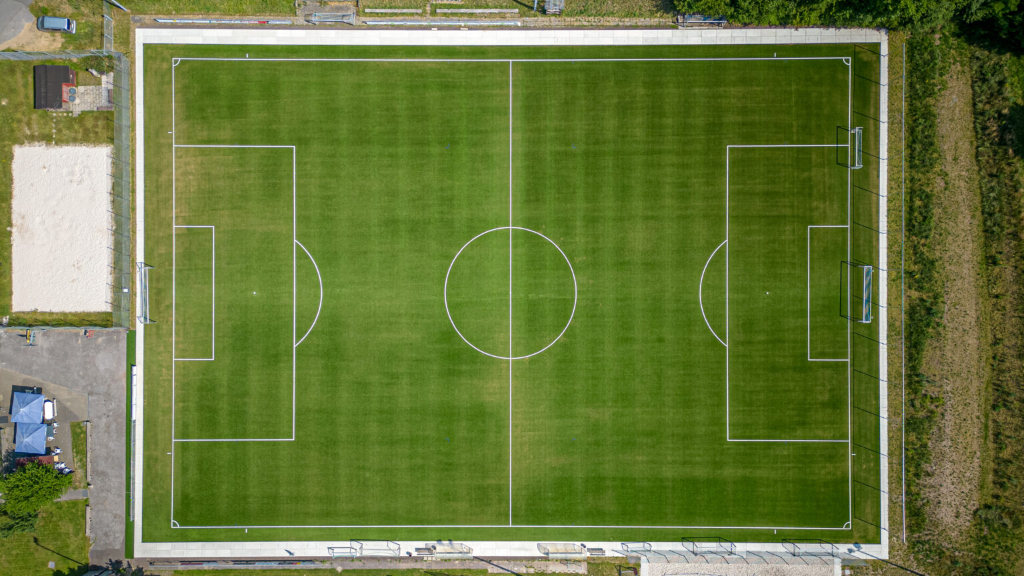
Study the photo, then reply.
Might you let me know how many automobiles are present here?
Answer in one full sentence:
I count just 1 automobile.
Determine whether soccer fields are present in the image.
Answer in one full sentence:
Yes, there is a soccer field in the image.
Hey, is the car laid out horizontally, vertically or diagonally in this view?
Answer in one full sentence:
In this picture, the car lies horizontally.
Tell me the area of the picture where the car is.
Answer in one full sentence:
The car appears toward the top left of the photo.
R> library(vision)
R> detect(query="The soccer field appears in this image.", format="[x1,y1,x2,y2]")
[142,43,881,544]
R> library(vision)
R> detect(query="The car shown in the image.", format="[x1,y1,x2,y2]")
[38,15,77,36]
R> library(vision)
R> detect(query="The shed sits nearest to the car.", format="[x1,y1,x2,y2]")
[35,64,76,109]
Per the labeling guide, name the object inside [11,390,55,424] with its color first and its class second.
blue gazebo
